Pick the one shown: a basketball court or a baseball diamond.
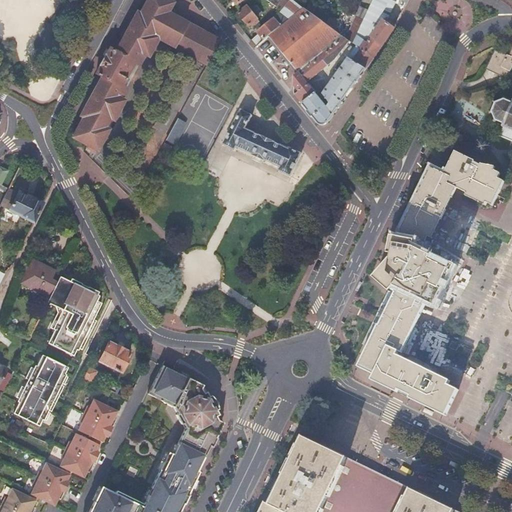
basketball court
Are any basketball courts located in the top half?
Yes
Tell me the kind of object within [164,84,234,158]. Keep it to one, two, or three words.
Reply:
basketball court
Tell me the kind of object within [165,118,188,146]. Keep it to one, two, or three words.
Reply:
shed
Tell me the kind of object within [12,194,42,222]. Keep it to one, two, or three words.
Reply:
house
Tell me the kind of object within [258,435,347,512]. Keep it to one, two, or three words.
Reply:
building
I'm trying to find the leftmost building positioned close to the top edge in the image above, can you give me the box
[80,0,222,142]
